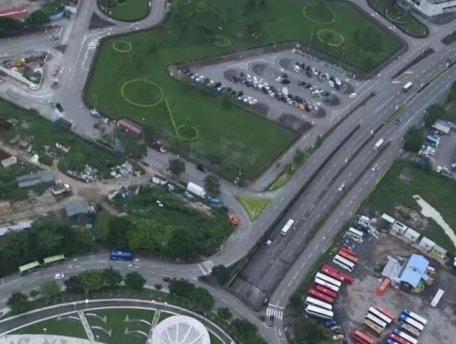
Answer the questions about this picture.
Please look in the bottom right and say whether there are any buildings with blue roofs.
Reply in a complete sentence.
Yes, a building with a blue roof shows up in the bottom right.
